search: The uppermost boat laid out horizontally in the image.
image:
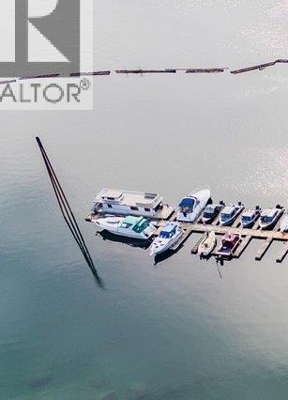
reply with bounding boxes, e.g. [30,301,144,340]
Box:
[92,187,178,220]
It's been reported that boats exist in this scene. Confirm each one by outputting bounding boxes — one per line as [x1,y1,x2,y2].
[92,187,178,220]
[218,231,236,259]
[90,215,162,242]
[204,201,224,223]
[200,231,215,257]
[261,204,286,230]
[220,202,245,225]
[242,207,264,227]
[177,186,210,222]
[149,226,190,257]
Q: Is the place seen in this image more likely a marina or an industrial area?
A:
marina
